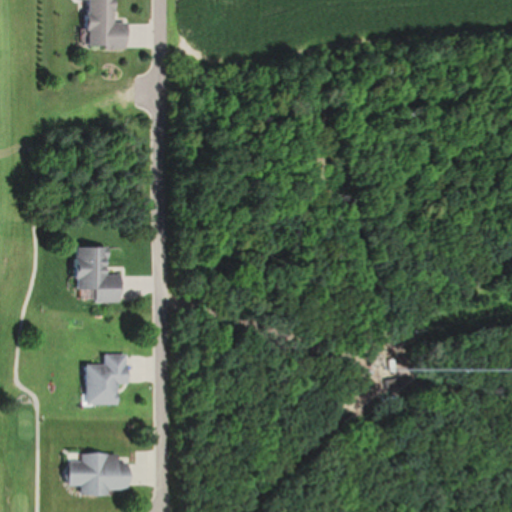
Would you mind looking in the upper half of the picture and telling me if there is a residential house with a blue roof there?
No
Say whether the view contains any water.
No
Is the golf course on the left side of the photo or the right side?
left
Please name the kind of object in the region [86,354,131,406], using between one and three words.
house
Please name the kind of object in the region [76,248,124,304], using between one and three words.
house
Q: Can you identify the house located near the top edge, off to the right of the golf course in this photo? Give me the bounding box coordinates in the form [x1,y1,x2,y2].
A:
[87,0,130,51]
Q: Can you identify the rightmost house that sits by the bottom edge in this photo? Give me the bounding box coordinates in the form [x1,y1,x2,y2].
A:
[68,453,132,497]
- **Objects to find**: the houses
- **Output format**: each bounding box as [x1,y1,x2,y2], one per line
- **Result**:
[68,453,132,497]
[87,0,130,51]
[86,354,131,406]
[76,248,124,304]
